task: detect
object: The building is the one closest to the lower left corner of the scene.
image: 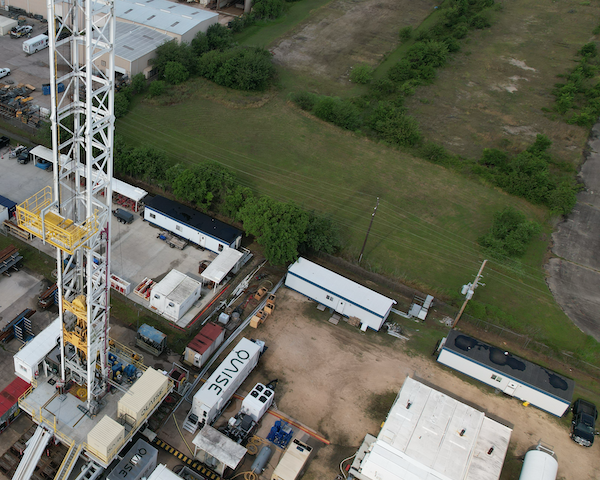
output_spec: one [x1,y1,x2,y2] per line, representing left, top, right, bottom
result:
[14,305,77,390]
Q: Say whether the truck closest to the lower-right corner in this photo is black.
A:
Yes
